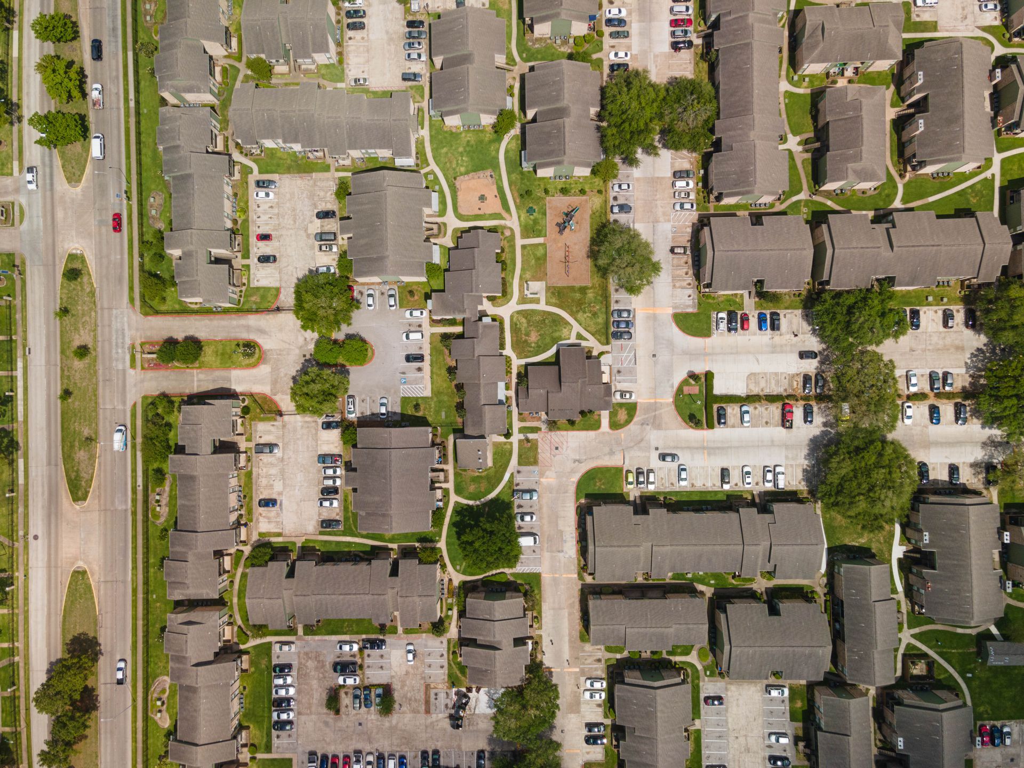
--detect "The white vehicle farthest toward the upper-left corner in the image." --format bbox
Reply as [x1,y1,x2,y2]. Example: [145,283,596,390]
[90,83,103,108]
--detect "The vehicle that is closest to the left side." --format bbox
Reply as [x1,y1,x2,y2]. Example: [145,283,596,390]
[24,165,37,190]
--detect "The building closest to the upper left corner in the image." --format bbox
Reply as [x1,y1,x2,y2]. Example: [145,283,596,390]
[155,0,238,102]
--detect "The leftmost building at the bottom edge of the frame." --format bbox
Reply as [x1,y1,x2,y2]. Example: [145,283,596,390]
[164,606,249,768]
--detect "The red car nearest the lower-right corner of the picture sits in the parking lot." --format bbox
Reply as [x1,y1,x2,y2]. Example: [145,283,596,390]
[980,726,992,748]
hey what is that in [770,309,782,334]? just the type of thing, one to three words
vehicle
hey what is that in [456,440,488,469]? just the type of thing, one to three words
shed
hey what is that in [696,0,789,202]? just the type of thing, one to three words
building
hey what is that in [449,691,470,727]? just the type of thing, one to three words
truck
